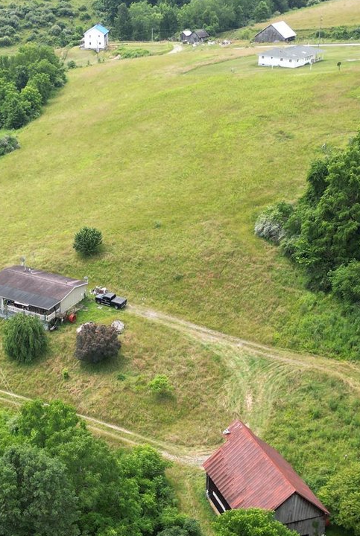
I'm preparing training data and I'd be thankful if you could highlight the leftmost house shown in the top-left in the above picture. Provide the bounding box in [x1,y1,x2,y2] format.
[78,18,111,50]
